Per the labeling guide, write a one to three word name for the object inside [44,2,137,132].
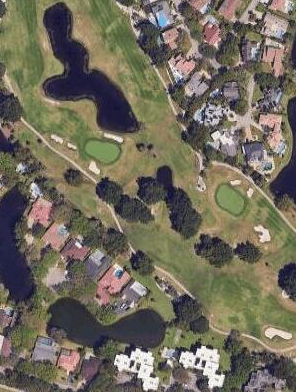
pond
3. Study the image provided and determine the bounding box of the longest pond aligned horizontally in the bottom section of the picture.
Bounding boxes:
[48,299,163,348]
